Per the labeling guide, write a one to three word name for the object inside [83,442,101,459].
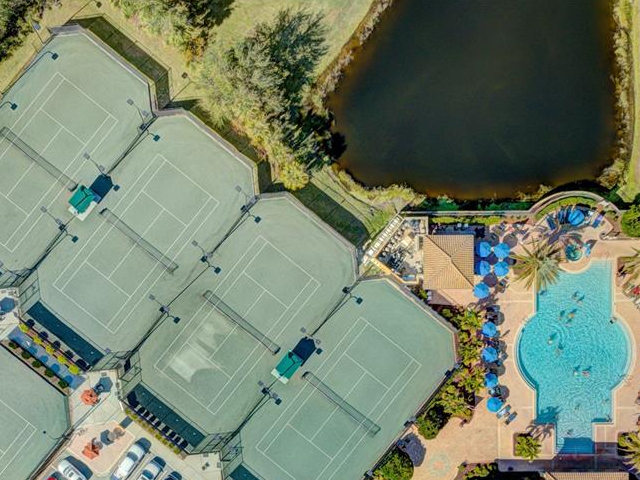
umbrella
